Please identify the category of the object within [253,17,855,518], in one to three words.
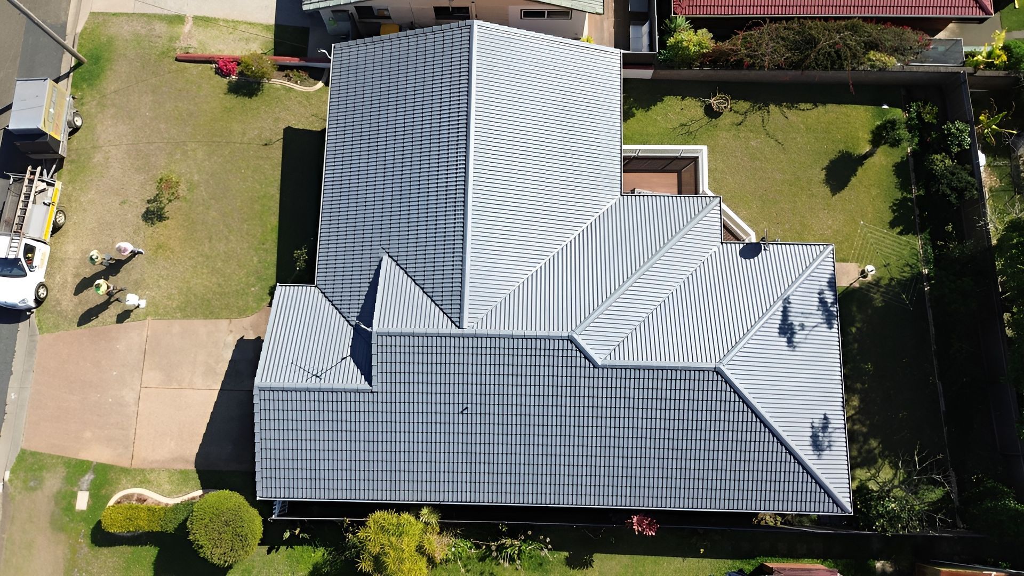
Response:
house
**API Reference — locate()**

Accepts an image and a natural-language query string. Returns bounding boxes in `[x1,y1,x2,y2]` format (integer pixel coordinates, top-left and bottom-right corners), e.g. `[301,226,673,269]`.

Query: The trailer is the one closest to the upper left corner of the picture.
[6,78,78,179]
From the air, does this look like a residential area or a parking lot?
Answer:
residential area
